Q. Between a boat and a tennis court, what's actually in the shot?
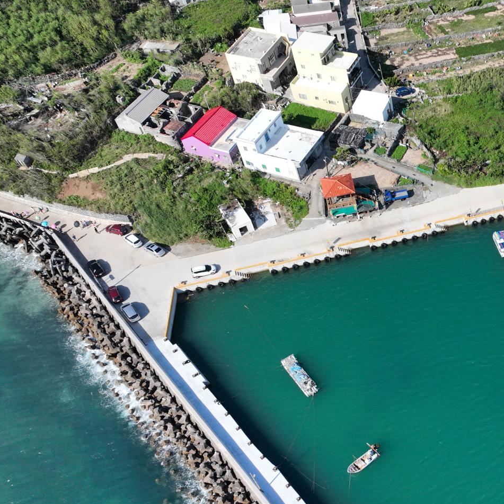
boat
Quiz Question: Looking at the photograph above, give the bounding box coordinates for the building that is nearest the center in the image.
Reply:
[218,200,260,247]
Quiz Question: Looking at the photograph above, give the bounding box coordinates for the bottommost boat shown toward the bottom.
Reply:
[348,439,381,471]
